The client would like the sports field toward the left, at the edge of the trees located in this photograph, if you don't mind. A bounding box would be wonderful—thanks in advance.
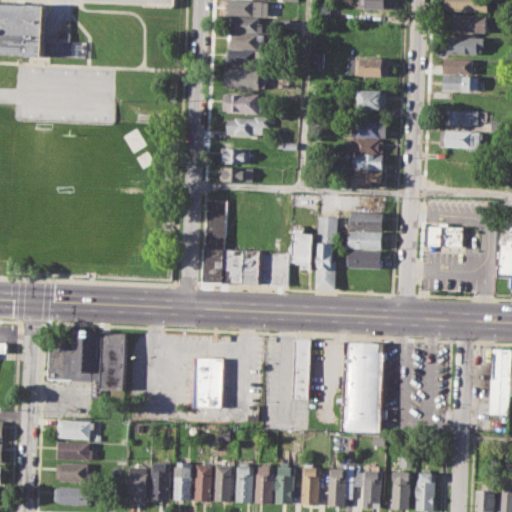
[0,122,170,280]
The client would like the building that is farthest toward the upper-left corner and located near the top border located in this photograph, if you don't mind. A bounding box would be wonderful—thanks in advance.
[0,4,42,58]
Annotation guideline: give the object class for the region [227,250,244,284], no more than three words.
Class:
building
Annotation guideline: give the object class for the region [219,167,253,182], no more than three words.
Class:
house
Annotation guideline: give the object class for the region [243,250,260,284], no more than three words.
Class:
building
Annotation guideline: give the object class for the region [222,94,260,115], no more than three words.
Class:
house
